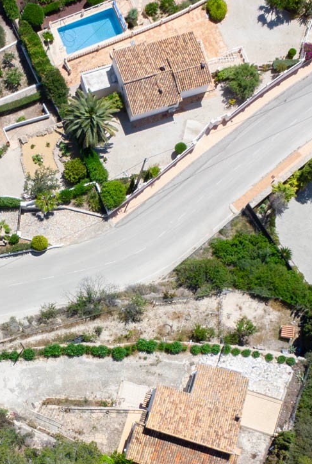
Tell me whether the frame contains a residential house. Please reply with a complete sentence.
Yes, the frame does contain a residential house.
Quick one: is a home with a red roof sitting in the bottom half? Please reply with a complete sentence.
No, I see no home with a red roof in the bottom half.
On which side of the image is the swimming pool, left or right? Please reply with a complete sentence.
The swimming pool is on the left side of the image.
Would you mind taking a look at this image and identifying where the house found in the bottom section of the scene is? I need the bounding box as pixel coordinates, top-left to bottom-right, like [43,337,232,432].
[127,364,282,464]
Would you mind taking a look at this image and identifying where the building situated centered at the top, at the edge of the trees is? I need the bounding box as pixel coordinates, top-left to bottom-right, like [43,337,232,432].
[80,30,212,119]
